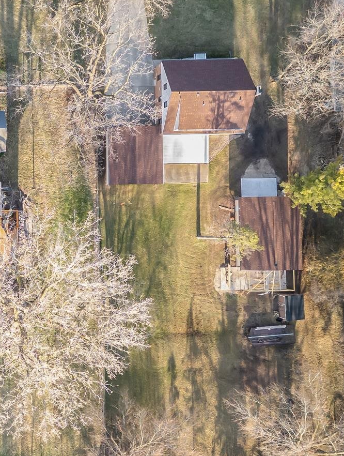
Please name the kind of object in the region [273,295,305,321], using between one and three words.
shed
